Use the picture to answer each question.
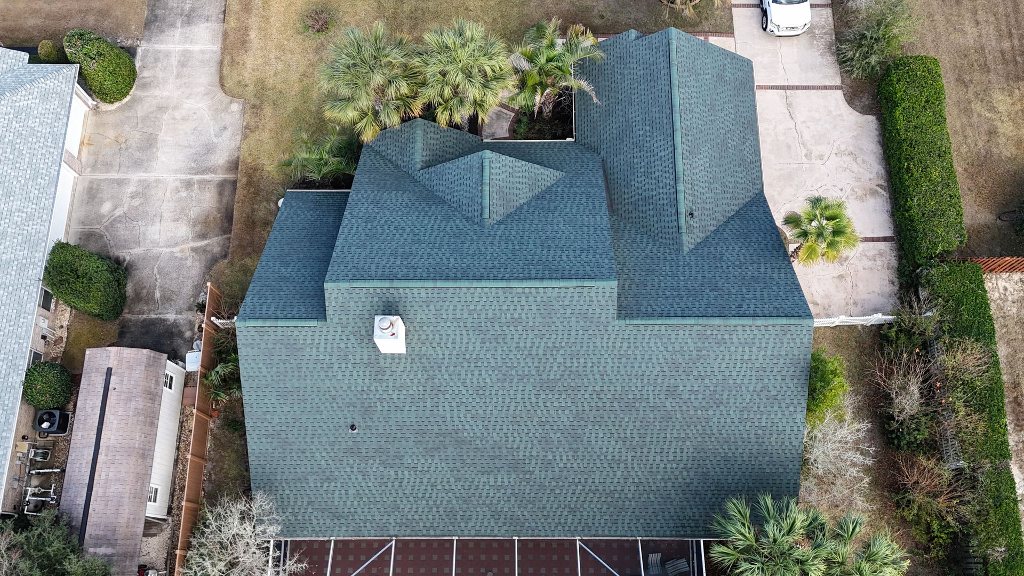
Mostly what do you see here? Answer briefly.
buildings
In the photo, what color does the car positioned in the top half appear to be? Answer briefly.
white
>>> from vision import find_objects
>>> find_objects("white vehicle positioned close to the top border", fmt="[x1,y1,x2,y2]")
[758,0,808,38]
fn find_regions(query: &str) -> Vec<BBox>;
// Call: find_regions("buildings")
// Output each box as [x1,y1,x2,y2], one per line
[237,29,814,543]
[0,48,96,517]
[50,347,184,576]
